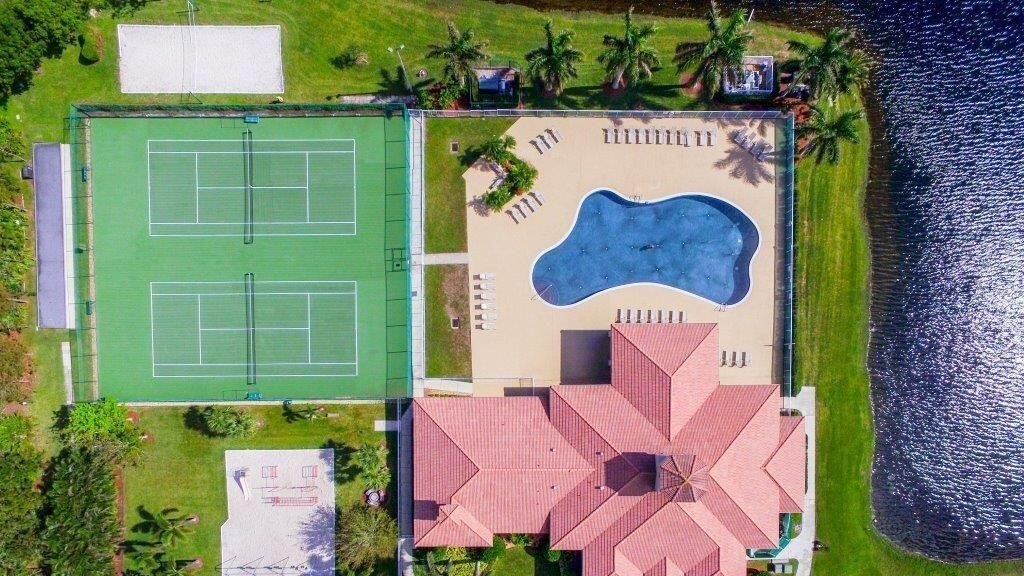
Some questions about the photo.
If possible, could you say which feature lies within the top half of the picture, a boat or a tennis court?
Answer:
tennis court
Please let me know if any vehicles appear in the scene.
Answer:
No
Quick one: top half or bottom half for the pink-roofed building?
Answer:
bottom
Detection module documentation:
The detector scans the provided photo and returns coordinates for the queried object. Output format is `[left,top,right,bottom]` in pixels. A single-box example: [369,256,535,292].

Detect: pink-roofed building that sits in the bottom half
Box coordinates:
[413,322,806,576]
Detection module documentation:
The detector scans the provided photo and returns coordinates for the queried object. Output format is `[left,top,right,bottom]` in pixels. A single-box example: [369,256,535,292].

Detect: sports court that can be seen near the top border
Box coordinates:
[117,0,284,108]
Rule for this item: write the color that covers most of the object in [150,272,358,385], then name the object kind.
green tennis court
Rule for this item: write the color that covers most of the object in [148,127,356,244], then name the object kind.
green tennis court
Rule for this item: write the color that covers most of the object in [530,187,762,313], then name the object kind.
blue swimming pool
